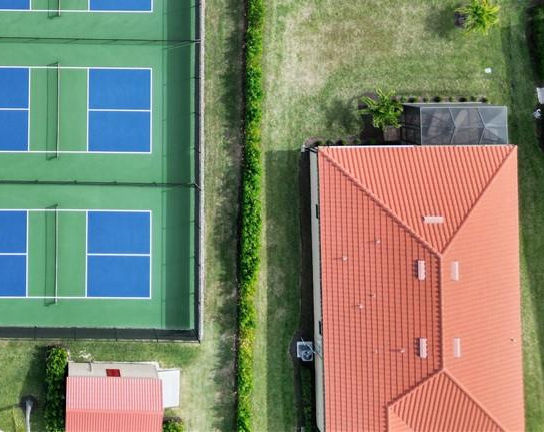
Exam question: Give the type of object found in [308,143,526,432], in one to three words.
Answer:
house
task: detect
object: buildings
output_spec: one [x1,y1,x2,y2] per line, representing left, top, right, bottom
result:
[308,143,526,432]
[66,363,164,431]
